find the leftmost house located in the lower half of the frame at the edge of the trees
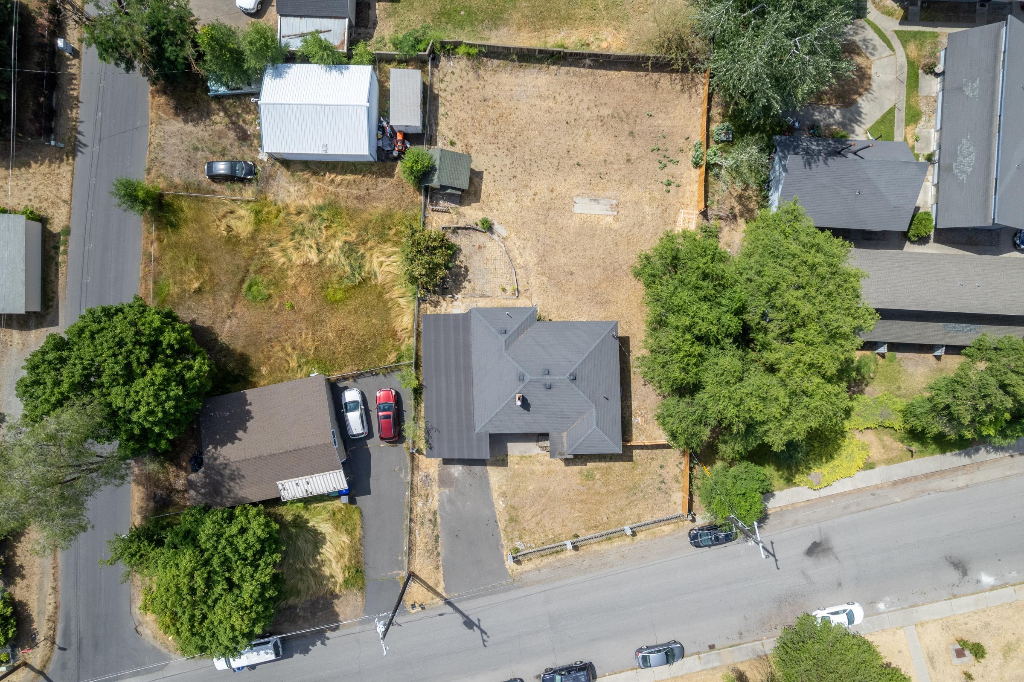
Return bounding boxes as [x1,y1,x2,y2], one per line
[188,368,353,505]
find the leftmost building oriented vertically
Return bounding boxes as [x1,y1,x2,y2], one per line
[0,214,42,315]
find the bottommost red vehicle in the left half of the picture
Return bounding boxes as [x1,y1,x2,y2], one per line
[374,388,400,441]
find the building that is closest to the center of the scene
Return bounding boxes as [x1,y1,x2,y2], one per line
[422,306,623,459]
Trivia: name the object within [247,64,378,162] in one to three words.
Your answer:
building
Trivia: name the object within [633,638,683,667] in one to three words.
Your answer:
car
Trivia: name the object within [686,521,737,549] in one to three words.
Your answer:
car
